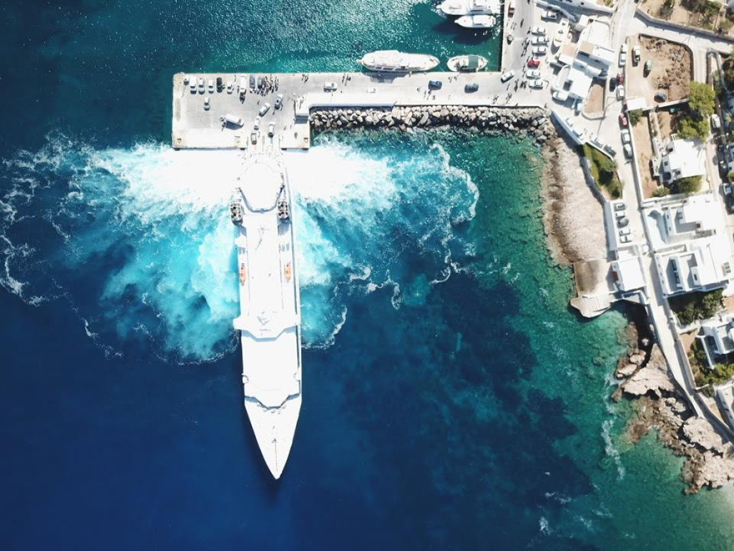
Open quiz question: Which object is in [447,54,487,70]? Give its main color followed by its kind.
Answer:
white boat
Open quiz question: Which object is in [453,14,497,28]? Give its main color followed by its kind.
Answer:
white boat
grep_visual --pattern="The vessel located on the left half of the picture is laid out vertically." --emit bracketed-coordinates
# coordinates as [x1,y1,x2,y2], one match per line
[231,135,301,479]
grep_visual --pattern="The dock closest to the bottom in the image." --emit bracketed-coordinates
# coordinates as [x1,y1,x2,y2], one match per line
[172,72,548,150]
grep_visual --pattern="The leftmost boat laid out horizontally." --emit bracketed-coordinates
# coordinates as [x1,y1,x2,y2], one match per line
[359,49,439,72]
